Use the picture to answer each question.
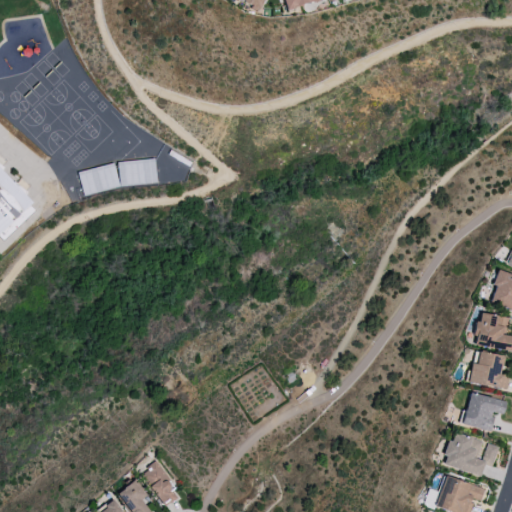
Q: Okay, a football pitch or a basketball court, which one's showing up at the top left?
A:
basketball court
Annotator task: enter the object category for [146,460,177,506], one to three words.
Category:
house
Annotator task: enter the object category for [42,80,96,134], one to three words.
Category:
basketball court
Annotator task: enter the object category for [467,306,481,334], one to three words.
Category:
swimming pool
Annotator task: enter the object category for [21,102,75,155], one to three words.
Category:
basketball court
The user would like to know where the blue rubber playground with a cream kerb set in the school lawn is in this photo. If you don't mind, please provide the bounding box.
[0,14,56,79]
